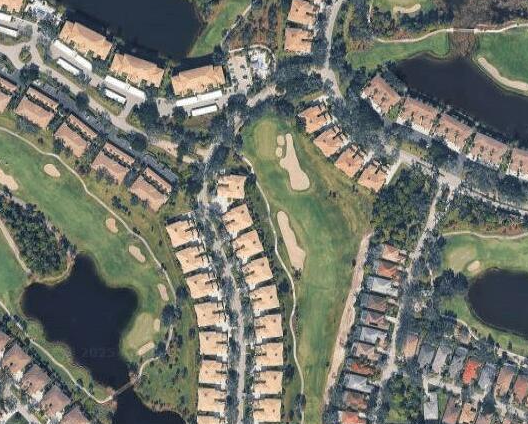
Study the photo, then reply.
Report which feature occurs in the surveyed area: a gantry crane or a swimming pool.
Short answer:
swimming pool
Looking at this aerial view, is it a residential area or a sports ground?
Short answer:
residential area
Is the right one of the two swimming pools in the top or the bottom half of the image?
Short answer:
top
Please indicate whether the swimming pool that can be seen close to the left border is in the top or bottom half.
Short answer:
top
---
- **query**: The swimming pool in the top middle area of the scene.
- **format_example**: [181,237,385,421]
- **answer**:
[251,51,271,77]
